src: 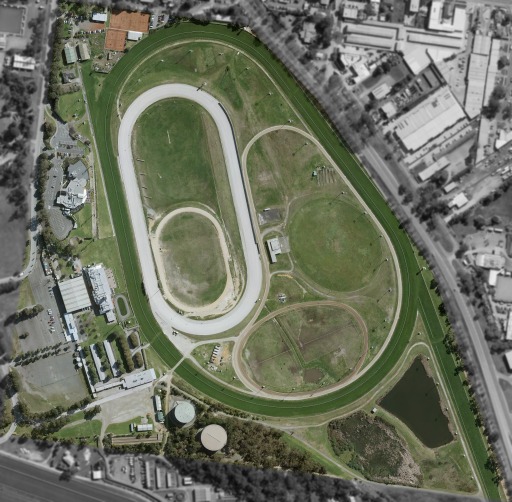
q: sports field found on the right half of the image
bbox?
[288,196,384,291]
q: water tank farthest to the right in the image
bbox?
[200,424,228,452]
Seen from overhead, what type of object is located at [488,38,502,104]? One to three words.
shed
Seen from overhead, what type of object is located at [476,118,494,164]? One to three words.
shed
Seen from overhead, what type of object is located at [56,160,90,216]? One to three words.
building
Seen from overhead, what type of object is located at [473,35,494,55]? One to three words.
building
